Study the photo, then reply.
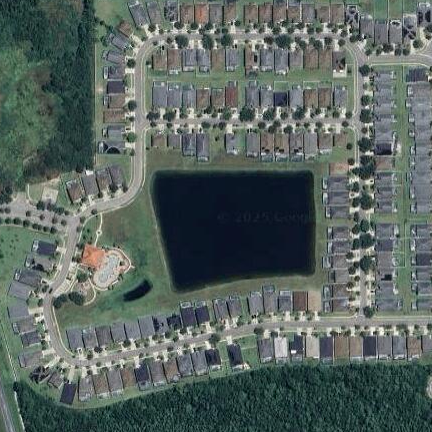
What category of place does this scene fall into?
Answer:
residential area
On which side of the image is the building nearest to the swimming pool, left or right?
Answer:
left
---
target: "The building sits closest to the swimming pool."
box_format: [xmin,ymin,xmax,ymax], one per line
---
[80,244,106,268]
